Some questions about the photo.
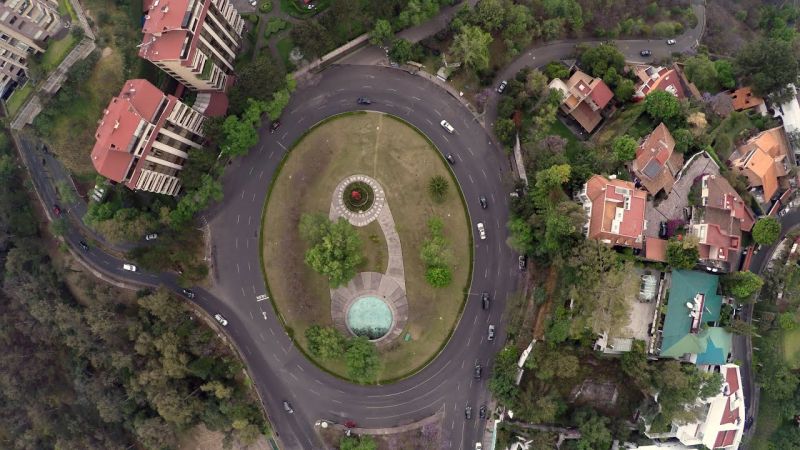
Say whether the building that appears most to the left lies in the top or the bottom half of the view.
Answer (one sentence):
It is in the top half that the building that appears most to the left appears.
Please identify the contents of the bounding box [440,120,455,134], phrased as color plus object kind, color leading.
white vehicle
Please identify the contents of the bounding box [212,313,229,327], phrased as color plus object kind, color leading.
white vehicle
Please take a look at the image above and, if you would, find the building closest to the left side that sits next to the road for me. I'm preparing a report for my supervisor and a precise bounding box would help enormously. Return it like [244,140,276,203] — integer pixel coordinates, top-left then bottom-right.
[0,0,61,96]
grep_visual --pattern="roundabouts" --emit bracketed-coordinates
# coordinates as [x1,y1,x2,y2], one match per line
[259,109,474,384]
